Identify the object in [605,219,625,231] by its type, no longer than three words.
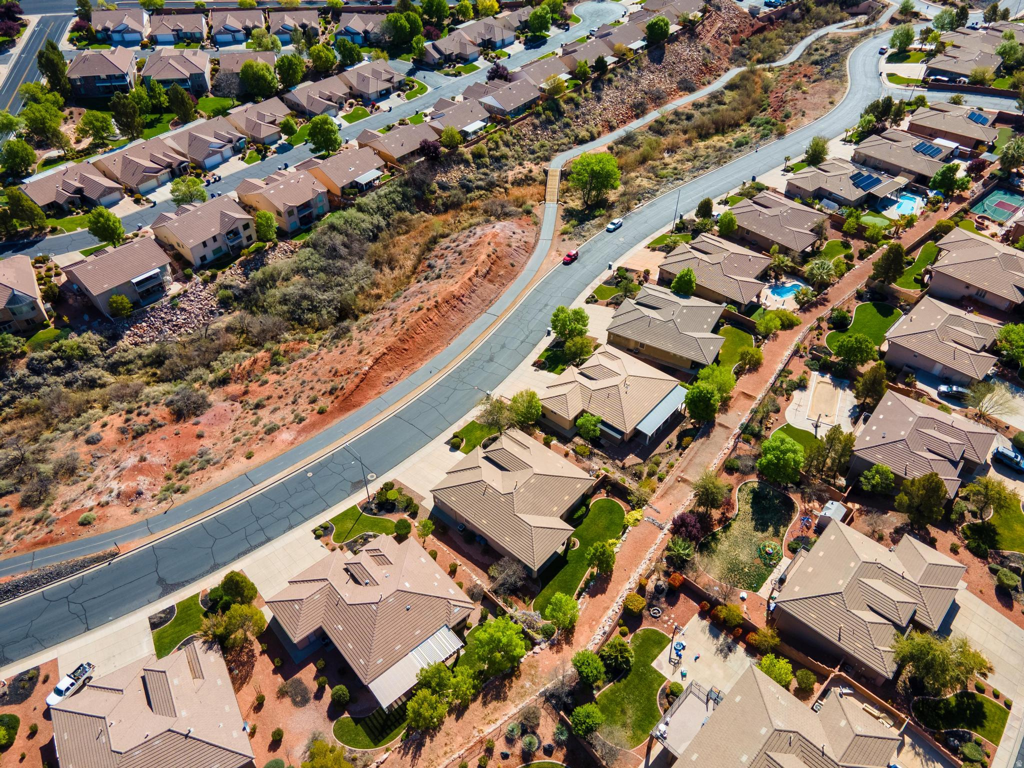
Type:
vehicle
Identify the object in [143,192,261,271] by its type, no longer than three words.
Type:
house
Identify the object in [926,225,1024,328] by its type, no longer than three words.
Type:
house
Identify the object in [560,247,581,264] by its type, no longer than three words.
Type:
car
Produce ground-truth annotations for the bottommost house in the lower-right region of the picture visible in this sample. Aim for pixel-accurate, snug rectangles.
[681,663,909,768]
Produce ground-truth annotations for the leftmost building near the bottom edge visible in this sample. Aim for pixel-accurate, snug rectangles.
[49,639,256,768]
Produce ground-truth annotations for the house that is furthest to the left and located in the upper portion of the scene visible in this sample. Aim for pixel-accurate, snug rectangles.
[0,255,48,337]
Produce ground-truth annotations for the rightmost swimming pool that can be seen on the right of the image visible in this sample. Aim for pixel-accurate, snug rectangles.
[896,195,916,214]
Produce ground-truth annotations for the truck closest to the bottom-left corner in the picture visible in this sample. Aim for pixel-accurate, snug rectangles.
[44,656,102,705]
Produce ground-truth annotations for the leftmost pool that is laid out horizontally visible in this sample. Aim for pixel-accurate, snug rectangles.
[770,283,801,298]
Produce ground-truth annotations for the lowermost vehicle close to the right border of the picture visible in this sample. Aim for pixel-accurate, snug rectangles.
[992,444,1024,472]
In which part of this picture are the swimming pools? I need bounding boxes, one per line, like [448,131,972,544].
[770,283,801,298]
[896,195,916,214]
